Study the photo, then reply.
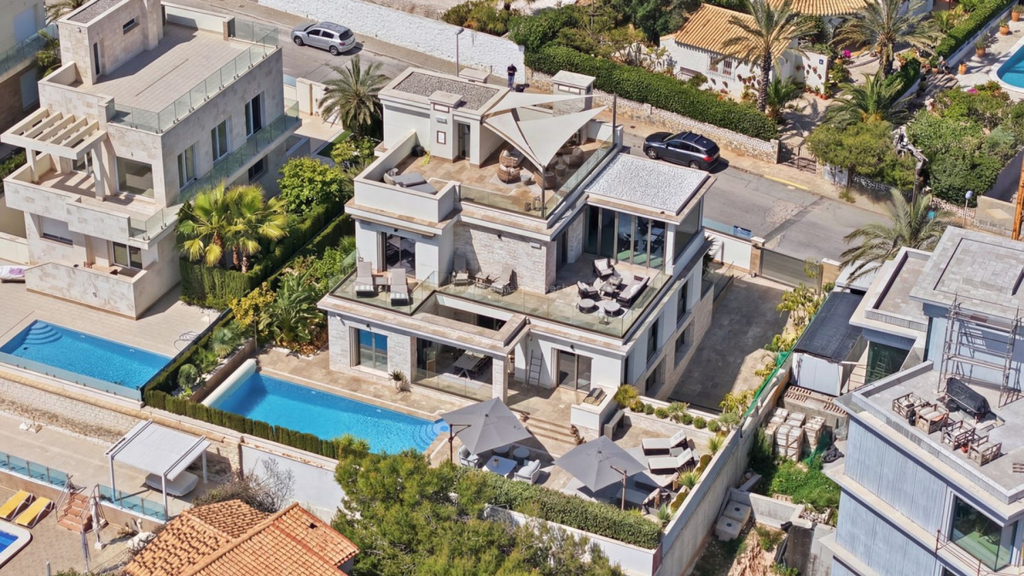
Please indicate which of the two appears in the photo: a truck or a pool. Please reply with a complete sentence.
The one in the frame is a pool.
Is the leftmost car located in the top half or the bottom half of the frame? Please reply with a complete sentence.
The leftmost car sits in the top half of the picture.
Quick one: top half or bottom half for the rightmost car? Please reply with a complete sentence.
You can find the rightmost car in the top half.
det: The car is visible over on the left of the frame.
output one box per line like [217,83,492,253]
[288,16,360,55]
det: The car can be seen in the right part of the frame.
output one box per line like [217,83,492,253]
[639,124,722,171]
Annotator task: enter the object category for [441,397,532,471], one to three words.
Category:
umbrella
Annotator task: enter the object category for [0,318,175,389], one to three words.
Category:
swimming pool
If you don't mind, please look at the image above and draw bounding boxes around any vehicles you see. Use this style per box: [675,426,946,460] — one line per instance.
[639,124,722,171]
[288,16,360,55]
